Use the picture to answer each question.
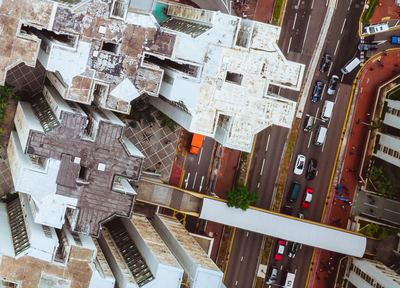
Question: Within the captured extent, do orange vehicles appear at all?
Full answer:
Yes, there is an orange vehicle in the image.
